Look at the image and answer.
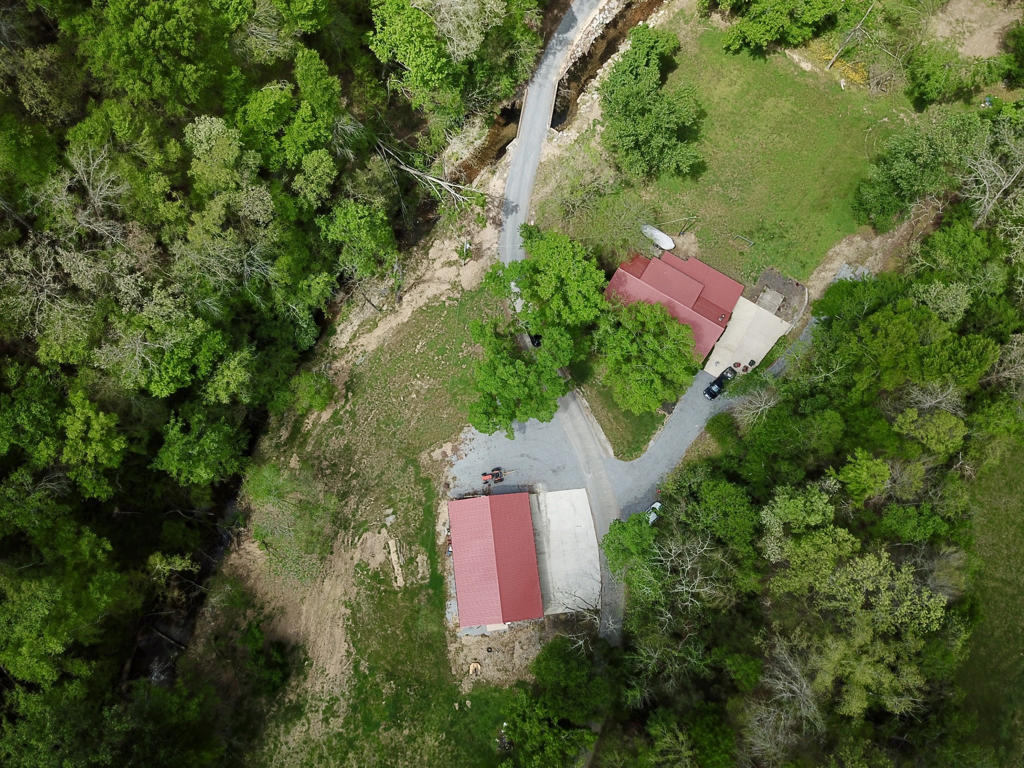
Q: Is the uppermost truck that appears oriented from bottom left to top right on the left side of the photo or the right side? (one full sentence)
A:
You can find the uppermost truck that appears oriented from bottom left to top right on the right side of the picture.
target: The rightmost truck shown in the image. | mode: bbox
[703,365,736,401]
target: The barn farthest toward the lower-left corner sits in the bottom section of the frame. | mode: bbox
[448,493,543,633]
